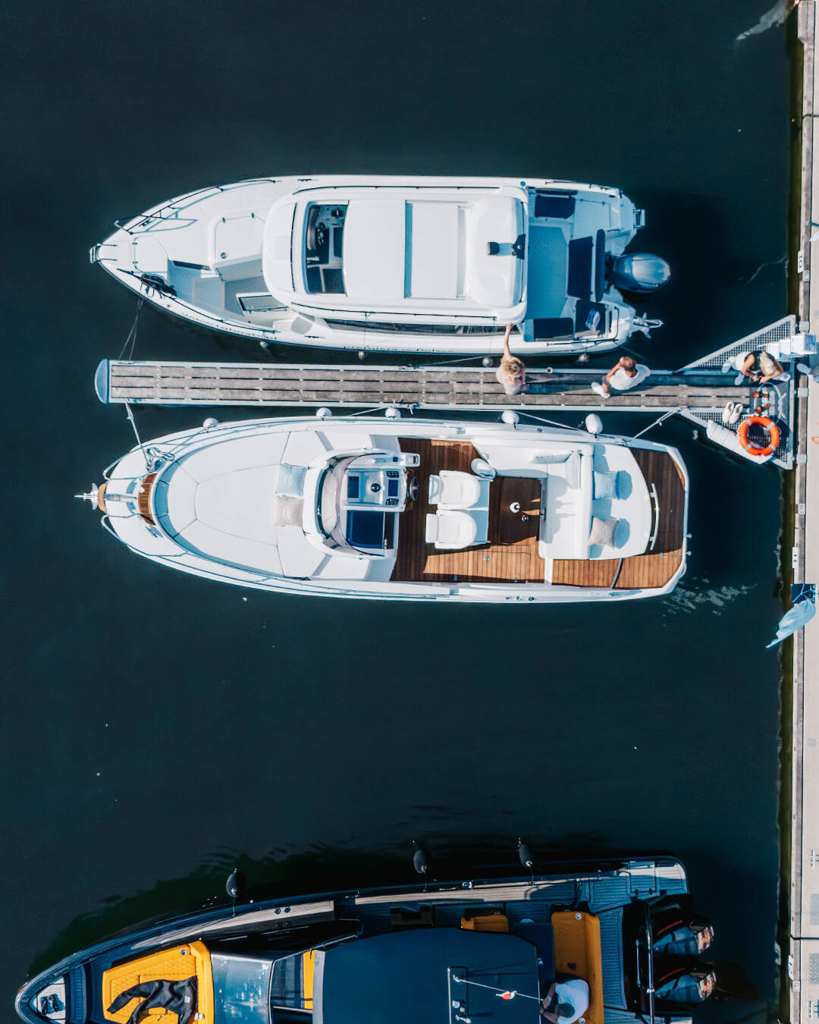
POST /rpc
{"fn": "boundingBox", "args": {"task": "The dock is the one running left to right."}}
[96,315,809,469]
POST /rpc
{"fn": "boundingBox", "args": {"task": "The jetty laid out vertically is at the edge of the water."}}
[776,0,819,1024]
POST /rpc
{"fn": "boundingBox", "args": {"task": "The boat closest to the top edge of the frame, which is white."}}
[88,174,671,353]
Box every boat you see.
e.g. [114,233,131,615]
[88,174,671,353]
[72,416,692,603]
[17,849,716,1024]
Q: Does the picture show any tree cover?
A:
No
